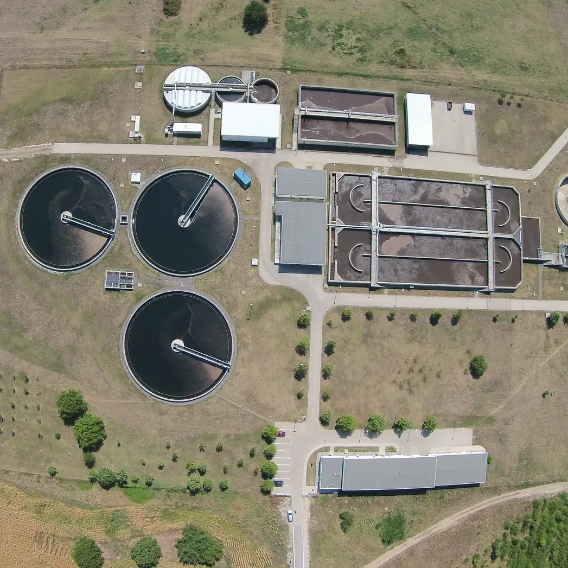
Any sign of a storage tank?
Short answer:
Yes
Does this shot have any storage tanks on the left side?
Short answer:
Yes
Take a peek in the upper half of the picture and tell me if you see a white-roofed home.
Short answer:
Yes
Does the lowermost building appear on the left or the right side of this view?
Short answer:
right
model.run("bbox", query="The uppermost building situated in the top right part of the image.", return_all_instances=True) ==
[404,93,432,148]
